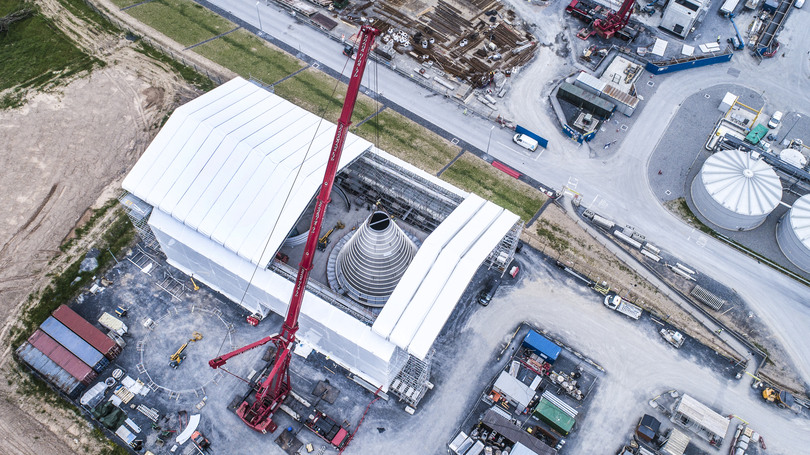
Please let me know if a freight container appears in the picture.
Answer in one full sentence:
Yes, there's a freight container here.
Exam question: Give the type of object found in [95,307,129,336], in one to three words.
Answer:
truck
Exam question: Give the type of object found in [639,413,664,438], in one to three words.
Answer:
shed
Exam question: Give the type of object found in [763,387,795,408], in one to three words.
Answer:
truck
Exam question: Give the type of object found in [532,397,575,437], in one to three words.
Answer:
shipping container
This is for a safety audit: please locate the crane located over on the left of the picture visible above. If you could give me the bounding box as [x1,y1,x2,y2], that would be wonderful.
[202,17,389,449]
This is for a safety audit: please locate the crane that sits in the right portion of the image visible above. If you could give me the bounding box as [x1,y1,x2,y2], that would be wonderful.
[551,0,640,53]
